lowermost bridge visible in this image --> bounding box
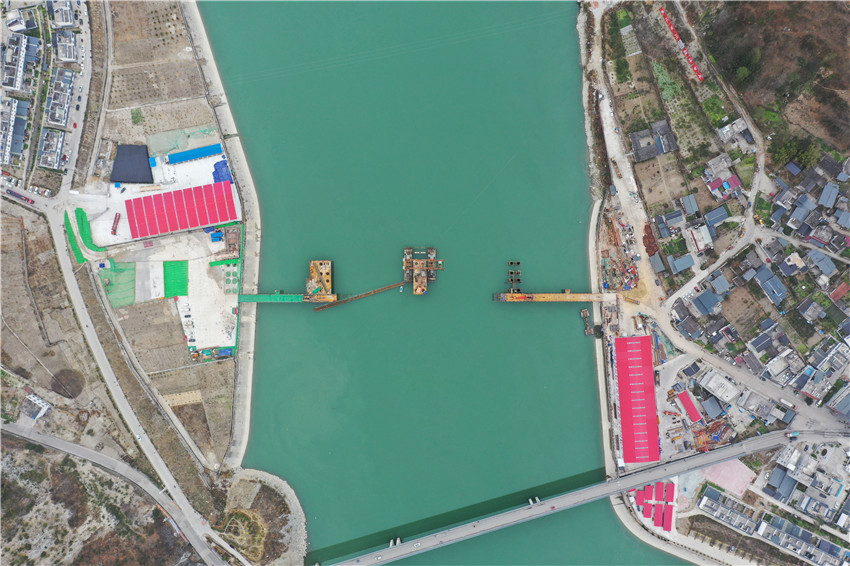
[314,427,815,566]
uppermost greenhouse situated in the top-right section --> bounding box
[620,24,642,57]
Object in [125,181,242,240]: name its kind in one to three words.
building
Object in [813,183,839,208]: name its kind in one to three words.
house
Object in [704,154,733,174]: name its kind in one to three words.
house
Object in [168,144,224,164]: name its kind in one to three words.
building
